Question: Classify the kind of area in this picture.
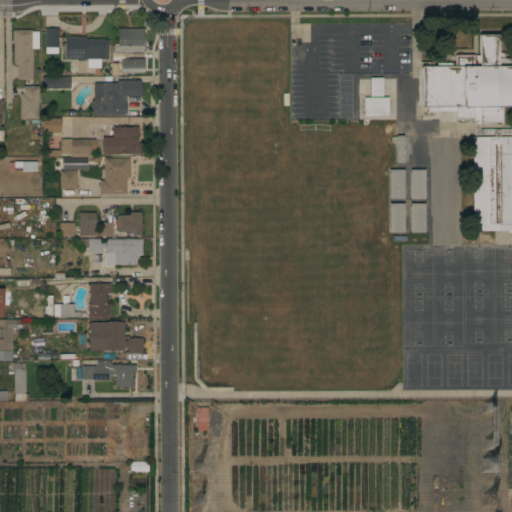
sports ground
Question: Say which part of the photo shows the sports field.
center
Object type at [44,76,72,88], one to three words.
building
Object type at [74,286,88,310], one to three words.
swimming pool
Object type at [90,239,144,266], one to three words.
house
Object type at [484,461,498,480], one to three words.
pylon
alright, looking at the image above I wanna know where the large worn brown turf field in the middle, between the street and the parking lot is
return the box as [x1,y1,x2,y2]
[184,19,403,390]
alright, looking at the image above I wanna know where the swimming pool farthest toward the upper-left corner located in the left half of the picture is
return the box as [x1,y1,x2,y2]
[76,86,92,106]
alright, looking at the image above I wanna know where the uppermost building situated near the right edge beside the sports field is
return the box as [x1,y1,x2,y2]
[424,63,512,124]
